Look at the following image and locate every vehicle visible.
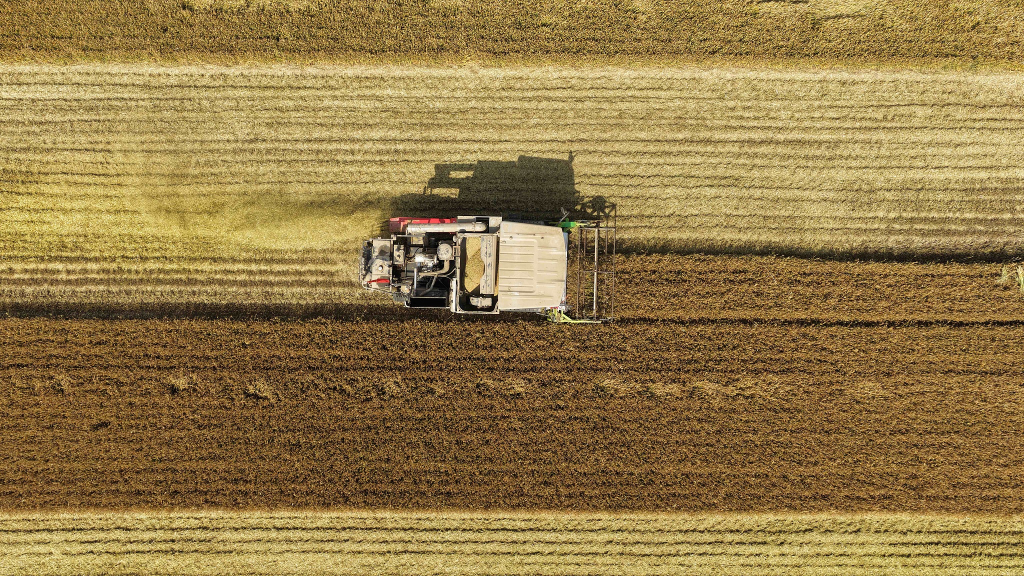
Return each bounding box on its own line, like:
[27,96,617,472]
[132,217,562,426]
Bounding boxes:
[360,206,616,323]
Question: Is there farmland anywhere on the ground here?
Yes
